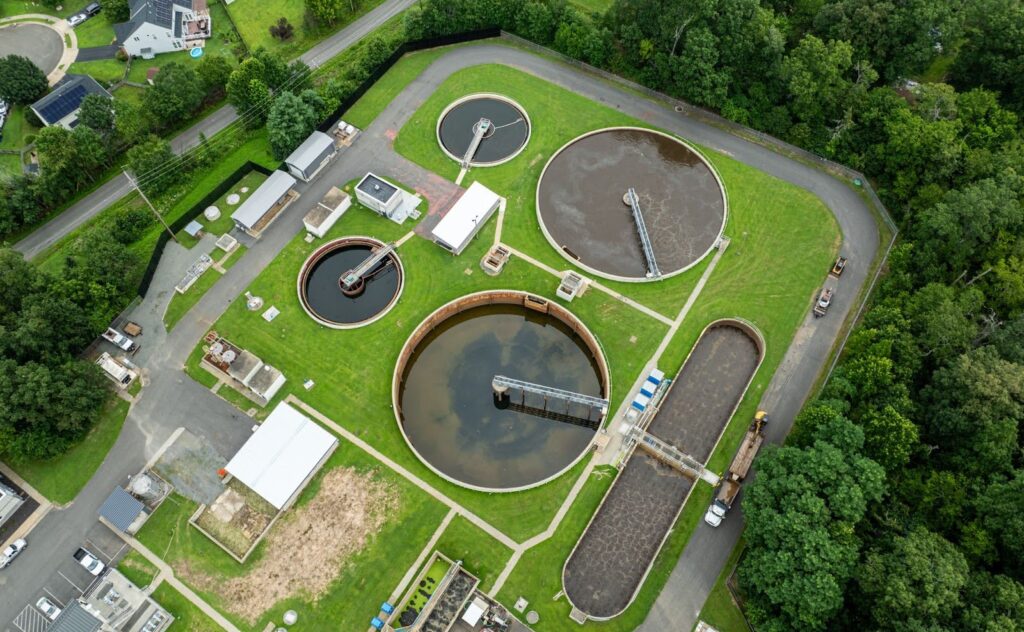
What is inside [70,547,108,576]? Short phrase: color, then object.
white truck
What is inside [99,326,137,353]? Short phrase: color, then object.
white truck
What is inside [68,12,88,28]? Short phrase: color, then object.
white car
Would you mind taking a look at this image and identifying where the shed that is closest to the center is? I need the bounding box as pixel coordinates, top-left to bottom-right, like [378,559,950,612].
[430,183,503,255]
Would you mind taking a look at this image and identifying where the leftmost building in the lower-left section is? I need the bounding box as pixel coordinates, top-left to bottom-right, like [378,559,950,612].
[0,478,35,527]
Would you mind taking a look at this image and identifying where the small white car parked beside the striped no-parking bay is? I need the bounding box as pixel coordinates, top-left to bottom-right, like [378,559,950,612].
[34,595,63,620]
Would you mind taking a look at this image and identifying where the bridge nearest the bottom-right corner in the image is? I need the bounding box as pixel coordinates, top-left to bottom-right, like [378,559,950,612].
[631,429,710,485]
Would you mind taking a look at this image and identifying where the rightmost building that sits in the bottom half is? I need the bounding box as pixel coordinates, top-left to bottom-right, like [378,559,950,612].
[463,597,487,627]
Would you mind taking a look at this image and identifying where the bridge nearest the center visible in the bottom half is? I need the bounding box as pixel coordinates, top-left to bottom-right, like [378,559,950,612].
[492,376,610,415]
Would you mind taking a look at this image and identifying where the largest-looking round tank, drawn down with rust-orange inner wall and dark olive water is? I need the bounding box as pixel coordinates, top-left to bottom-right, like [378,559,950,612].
[393,289,612,492]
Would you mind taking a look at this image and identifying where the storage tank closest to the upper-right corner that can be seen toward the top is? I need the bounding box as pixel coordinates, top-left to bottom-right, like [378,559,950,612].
[538,127,730,283]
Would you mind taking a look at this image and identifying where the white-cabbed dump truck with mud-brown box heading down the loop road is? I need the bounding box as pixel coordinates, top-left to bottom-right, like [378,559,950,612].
[702,474,743,527]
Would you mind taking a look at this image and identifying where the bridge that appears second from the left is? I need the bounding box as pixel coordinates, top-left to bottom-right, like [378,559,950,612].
[463,116,494,167]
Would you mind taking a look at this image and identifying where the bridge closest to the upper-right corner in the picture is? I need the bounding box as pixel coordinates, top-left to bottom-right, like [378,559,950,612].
[626,186,659,276]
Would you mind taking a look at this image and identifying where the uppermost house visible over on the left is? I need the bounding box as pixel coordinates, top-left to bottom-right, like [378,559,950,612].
[107,0,214,58]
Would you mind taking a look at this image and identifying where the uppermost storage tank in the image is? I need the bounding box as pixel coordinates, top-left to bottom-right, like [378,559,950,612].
[436,94,531,168]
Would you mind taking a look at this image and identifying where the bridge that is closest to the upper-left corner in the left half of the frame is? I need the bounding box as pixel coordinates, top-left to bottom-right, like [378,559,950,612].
[340,242,398,288]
